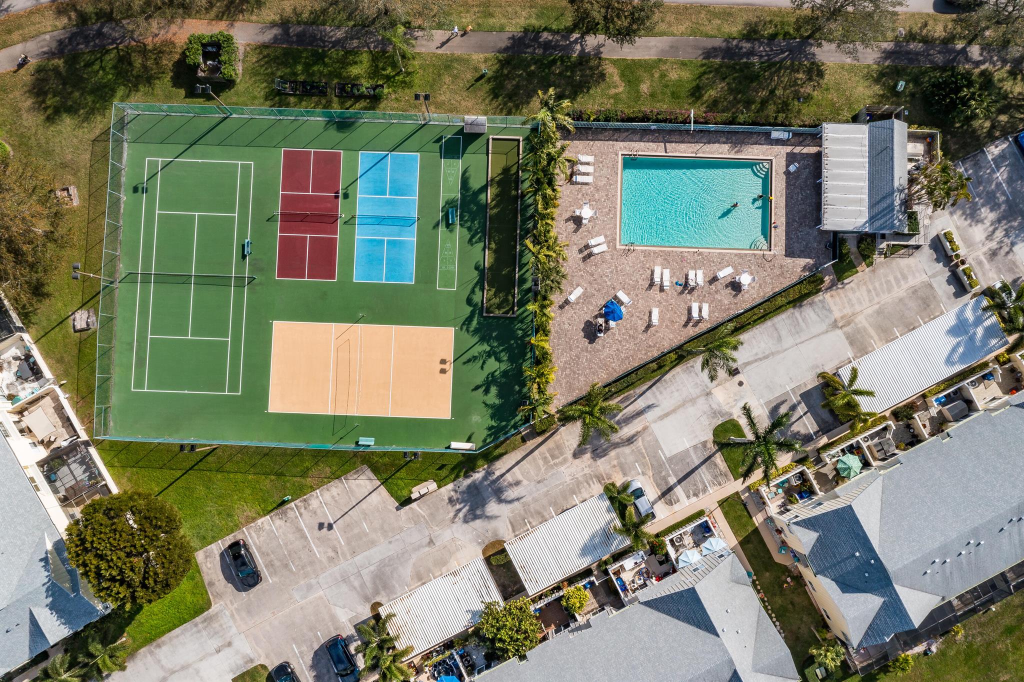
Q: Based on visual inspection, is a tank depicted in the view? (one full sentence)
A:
No, there isn't any tank down there.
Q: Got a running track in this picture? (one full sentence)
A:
No, the picture doesn't show any running track.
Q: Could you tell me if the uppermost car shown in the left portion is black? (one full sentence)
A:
Yes, the uppermost car shown in the left portion is indeed black.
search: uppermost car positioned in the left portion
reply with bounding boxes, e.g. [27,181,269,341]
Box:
[225,544,259,589]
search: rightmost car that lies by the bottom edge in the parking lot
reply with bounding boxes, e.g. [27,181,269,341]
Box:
[322,635,357,682]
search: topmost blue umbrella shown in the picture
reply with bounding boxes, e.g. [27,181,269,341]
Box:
[603,299,625,321]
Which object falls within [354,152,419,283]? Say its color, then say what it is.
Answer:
blue sports court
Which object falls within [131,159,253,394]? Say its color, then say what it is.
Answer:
green tennis court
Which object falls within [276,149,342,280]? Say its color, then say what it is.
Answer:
red sports court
